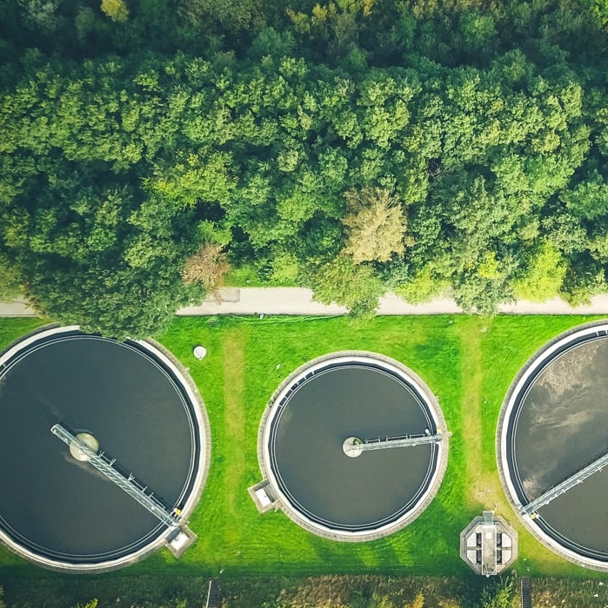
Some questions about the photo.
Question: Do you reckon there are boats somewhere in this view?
No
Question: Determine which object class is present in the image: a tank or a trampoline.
tank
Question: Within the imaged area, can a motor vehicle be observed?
No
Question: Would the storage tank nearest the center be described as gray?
Yes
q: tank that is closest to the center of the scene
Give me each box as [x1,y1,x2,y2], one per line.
[248,351,449,542]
